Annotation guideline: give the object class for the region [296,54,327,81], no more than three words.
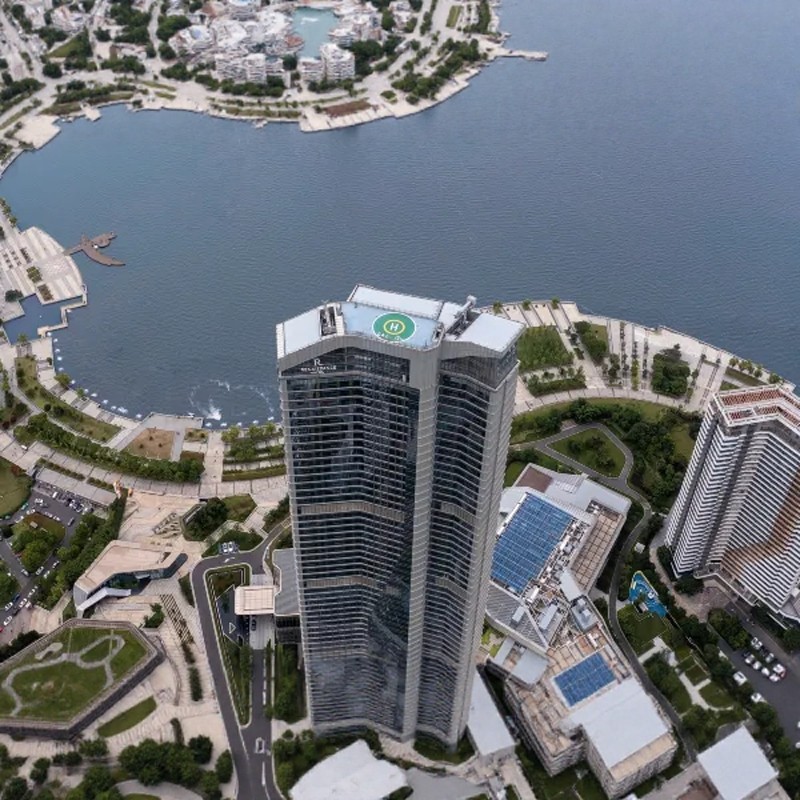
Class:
house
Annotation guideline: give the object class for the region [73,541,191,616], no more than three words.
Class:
building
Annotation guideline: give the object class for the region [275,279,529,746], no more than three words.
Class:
building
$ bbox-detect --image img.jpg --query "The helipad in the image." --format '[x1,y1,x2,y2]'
[373,312,417,340]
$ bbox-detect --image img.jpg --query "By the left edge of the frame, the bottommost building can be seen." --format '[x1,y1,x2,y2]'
[0,619,165,736]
